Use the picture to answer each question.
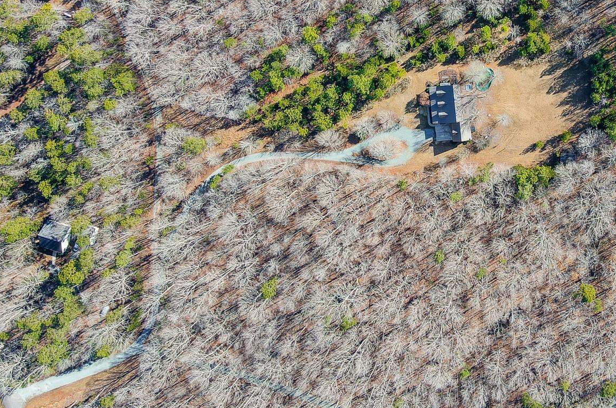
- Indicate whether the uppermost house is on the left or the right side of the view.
right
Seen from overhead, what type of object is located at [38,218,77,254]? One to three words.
house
